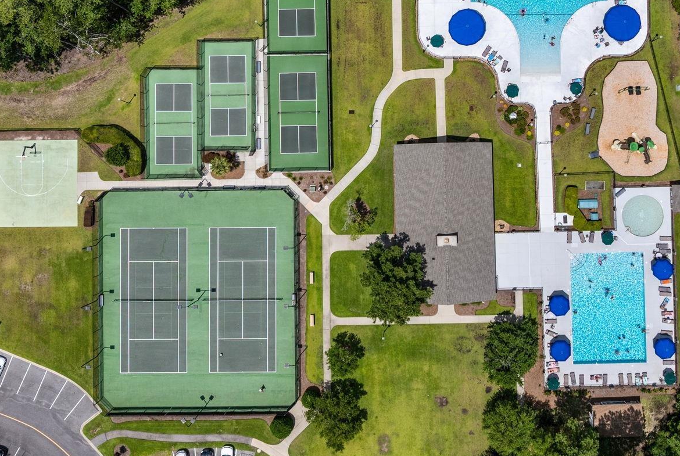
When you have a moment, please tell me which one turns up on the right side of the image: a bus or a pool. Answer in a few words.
pool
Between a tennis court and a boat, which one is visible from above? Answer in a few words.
tennis court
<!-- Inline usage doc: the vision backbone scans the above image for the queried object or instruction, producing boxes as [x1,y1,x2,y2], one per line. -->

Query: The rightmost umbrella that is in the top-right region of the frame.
[603,3,640,41]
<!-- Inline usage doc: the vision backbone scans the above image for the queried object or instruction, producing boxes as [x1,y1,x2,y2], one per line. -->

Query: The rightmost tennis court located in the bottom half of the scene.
[201,227,282,372]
